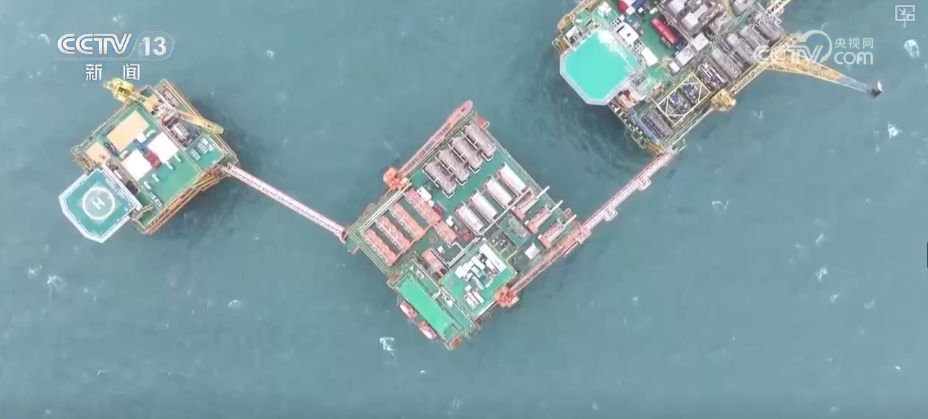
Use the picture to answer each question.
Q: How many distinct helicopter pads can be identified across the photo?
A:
two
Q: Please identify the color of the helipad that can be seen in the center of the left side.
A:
white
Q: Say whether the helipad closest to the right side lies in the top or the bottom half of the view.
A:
top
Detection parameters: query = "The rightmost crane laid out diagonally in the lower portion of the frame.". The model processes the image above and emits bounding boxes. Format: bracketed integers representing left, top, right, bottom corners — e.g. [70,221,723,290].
[493,232,577,310]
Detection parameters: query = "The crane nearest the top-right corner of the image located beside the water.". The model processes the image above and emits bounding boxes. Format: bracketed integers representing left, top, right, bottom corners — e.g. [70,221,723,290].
[709,66,759,113]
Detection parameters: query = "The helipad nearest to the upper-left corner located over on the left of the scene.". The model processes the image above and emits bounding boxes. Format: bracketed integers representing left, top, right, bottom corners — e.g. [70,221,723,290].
[60,157,149,243]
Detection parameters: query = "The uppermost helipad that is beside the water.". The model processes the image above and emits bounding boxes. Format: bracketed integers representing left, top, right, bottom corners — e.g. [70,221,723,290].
[560,18,648,106]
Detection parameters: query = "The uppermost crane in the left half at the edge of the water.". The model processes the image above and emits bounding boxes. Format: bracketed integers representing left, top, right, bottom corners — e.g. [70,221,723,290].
[104,83,225,132]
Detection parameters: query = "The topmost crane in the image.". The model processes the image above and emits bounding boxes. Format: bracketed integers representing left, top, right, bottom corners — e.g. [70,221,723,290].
[555,0,594,34]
